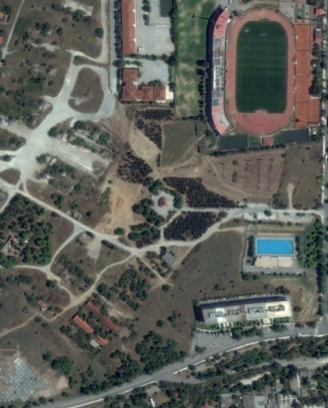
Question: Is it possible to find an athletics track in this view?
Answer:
Yes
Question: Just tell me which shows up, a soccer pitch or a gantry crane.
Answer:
soccer pitch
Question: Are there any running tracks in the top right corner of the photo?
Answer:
Yes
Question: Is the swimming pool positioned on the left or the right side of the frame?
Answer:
right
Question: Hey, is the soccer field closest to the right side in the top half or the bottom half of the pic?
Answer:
top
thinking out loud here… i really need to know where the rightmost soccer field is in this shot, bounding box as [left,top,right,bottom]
[236,21,288,113]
